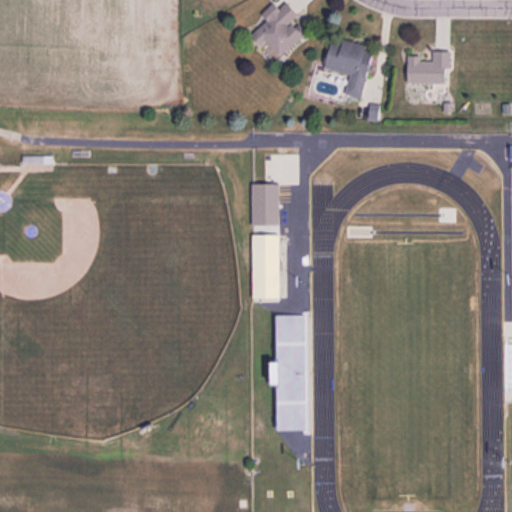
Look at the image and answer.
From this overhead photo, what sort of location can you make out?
sports ground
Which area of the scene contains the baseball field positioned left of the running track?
left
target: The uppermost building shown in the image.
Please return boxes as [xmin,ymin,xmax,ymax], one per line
[253,2,301,58]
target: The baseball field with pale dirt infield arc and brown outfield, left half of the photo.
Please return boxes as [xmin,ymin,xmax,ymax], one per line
[0,164,241,440]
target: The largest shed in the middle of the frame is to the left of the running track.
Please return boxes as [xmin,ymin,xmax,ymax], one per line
[252,234,288,300]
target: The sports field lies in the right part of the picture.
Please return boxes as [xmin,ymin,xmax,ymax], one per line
[334,183,481,512]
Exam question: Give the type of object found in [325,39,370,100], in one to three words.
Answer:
house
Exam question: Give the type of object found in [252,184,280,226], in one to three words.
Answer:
shed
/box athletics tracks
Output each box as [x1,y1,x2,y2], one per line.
[314,162,502,512]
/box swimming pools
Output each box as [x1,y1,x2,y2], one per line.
[316,80,338,96]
